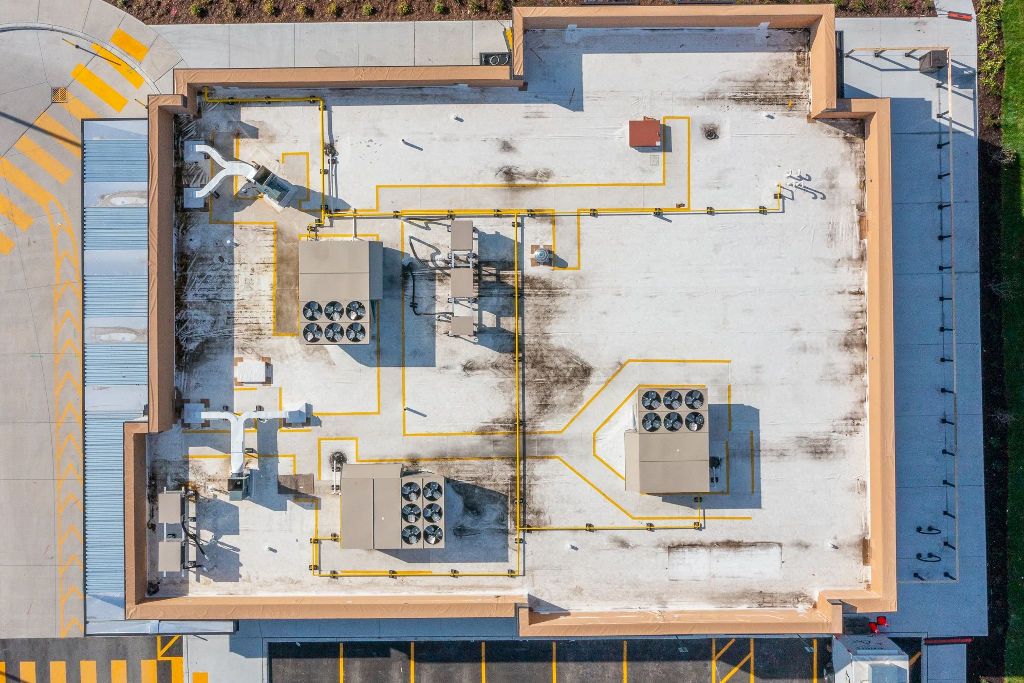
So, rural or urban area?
urban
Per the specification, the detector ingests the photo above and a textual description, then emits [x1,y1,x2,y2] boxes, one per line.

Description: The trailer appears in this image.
[821,634,909,683]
